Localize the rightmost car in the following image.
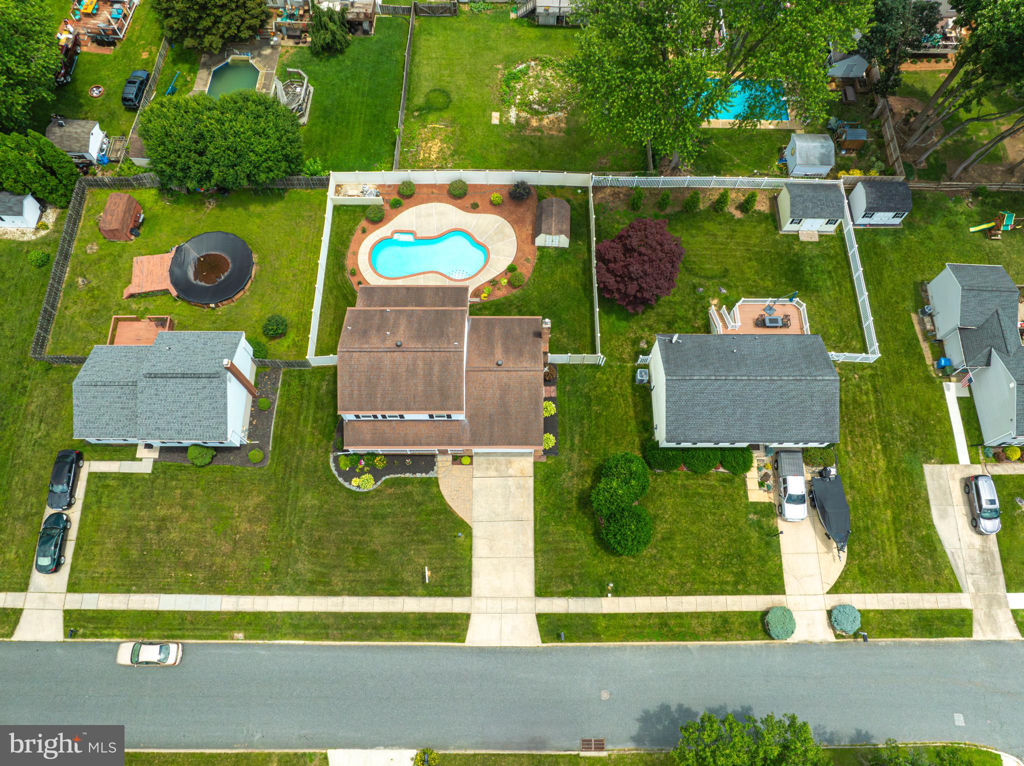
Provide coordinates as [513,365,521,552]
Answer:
[963,476,1007,532]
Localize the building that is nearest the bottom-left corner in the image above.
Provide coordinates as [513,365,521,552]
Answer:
[72,331,256,453]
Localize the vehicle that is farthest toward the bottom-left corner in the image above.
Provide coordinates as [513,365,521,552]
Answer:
[118,638,187,671]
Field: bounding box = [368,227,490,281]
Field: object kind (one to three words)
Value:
swimming pool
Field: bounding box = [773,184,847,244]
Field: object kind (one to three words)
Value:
shed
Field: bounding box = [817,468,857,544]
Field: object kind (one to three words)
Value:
boat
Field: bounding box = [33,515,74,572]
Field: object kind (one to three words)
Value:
car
